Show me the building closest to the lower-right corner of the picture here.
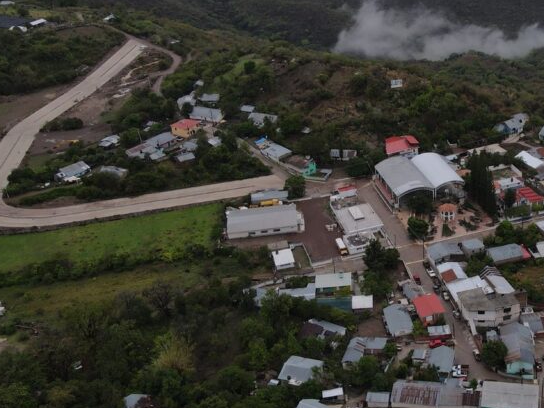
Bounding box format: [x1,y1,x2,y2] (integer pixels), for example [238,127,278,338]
[479,380,540,408]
